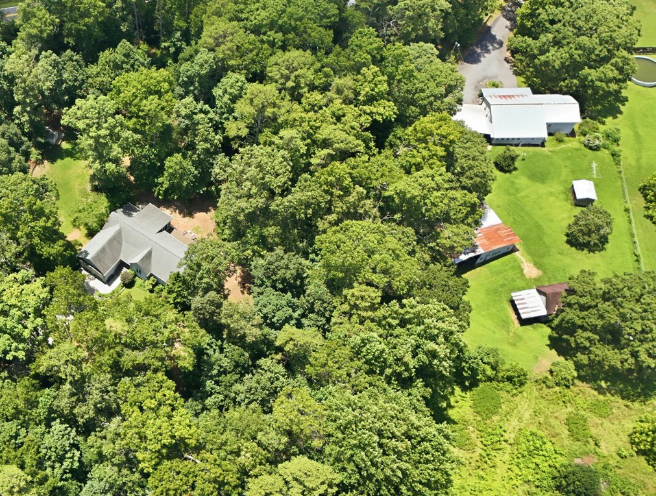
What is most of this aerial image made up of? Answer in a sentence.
The bulk of the photo consists of trees.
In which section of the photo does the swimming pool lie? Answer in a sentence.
The swimming pool appears toward the top right of the photo.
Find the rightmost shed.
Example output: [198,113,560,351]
[570,179,597,206]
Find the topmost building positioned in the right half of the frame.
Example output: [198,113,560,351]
[454,87,582,150]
